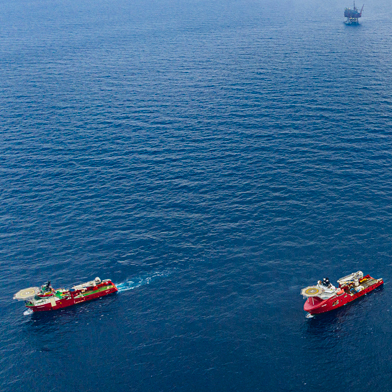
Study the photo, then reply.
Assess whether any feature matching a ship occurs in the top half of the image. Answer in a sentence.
No, no ship can be made out in the top half of the image.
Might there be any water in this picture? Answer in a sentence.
Yes, there is water in the image.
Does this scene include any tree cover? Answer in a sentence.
No, the scene doesn't show any tree cover.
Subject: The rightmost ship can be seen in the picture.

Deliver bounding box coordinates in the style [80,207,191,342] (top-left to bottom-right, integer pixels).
[302,271,382,314]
